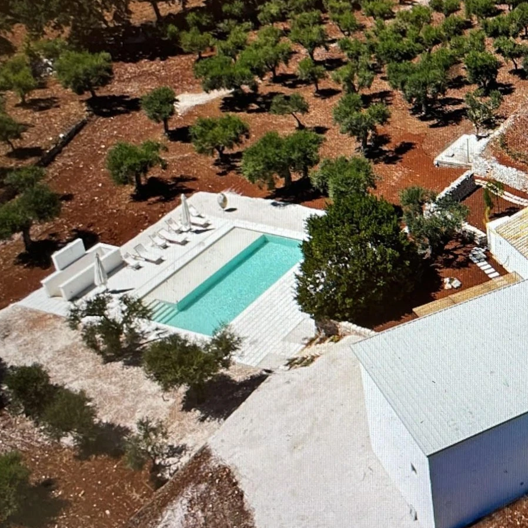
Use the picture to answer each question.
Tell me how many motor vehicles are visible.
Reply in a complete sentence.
There are no motor vehicles in the image.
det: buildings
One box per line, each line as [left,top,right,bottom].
[486,199,528,279]
[340,282,528,528]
